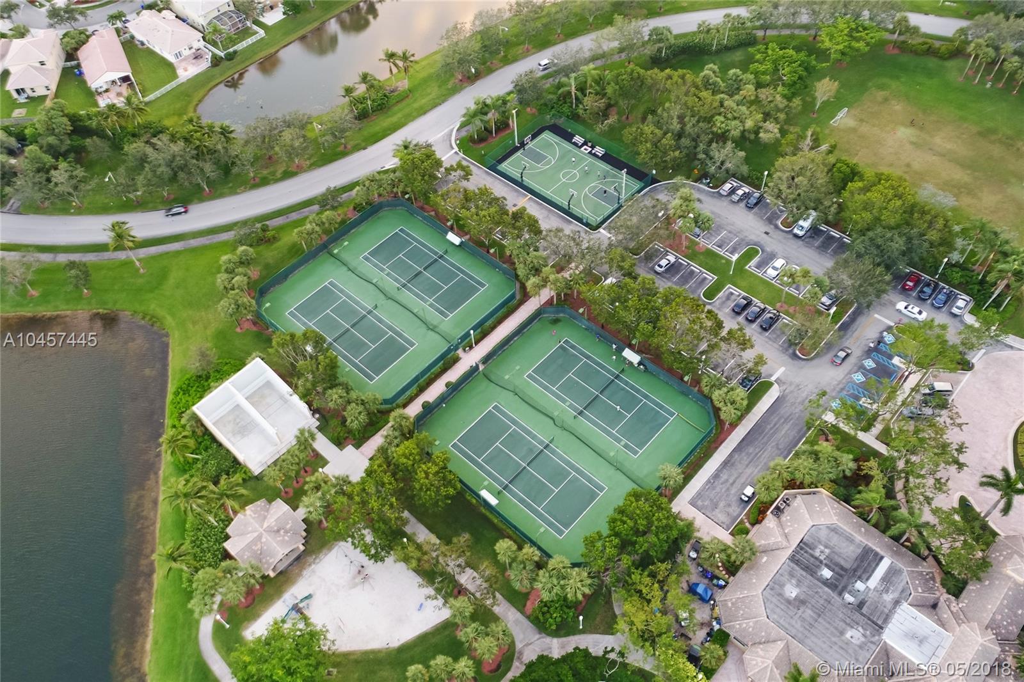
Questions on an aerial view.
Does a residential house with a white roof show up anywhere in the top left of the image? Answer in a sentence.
Yes, there is a residential house with a white roof in the top left of the image.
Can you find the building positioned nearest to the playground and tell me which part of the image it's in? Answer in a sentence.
Look in the bottom left portion of the view to spot the building positioned nearest to the playground.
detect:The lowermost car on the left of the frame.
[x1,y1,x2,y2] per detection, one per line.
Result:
[165,203,187,216]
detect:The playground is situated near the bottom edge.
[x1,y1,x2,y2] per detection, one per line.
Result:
[244,537,448,652]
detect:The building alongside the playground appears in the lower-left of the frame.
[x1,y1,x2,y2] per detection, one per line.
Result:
[224,499,313,584]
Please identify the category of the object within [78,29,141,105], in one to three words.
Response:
house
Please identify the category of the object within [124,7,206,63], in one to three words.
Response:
house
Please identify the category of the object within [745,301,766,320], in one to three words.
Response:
car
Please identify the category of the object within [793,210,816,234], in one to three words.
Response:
vehicle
